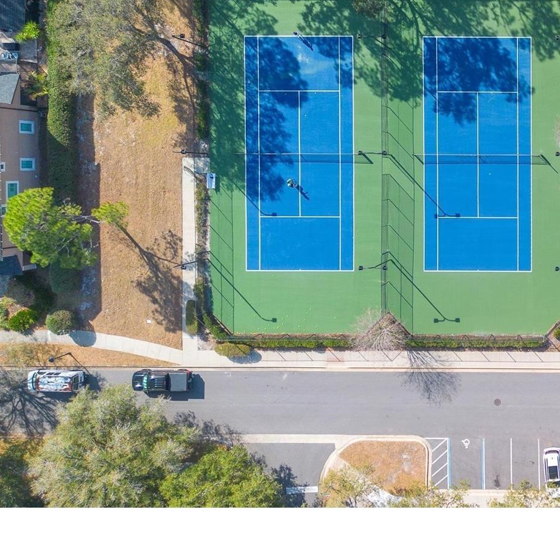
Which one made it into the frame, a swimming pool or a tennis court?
tennis court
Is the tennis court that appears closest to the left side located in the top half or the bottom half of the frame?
top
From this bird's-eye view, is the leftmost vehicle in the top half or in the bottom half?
bottom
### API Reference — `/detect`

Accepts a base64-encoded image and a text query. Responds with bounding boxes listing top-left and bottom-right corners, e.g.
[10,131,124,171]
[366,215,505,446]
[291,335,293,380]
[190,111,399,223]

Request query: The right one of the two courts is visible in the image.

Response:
[389,0,560,336]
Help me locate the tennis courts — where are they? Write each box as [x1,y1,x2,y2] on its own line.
[209,0,390,336]
[389,0,560,336]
